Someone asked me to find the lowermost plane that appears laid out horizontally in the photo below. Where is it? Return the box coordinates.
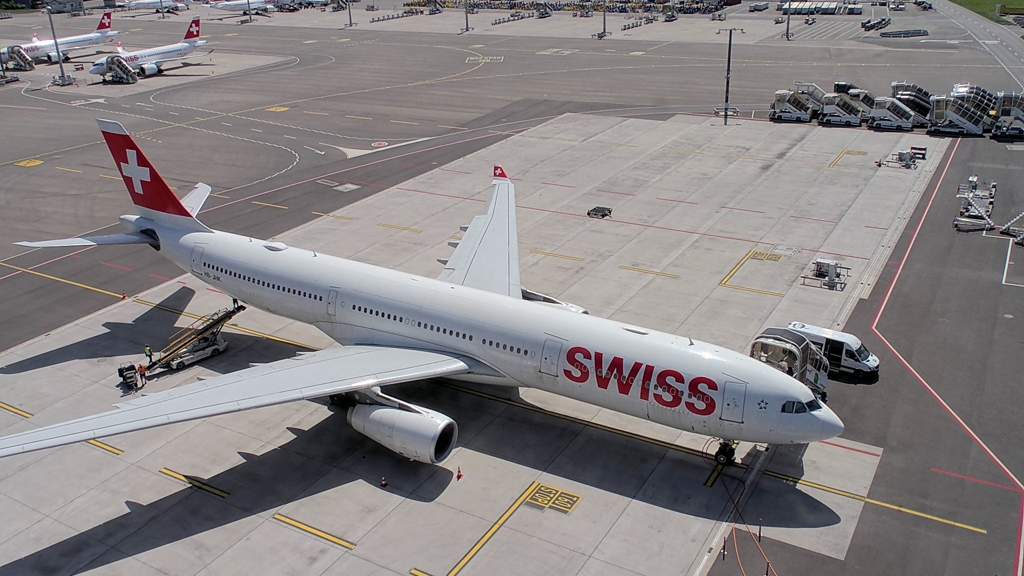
[0,118,844,466]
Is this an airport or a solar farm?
airport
